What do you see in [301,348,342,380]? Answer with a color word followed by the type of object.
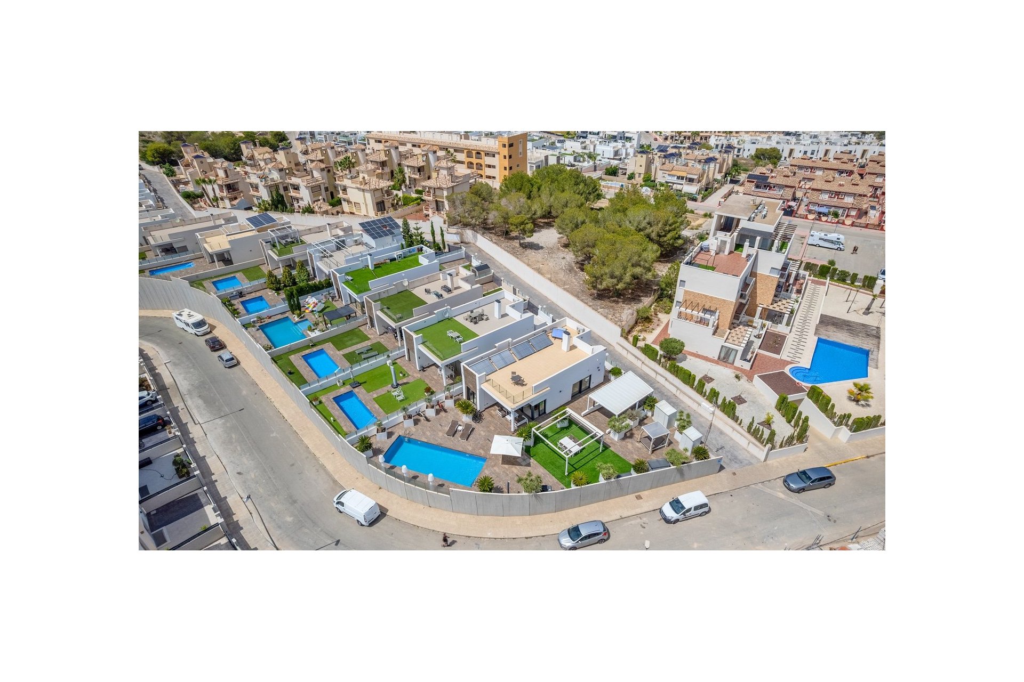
blue swimming pool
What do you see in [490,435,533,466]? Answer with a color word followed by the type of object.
white umbrella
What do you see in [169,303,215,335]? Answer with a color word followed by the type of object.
white camper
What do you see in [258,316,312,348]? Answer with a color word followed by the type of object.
blue swimming pool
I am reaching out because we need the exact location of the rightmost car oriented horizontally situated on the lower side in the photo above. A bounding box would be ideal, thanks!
[784,463,840,490]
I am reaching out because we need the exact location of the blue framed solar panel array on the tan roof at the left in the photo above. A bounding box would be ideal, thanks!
[243,215,282,235]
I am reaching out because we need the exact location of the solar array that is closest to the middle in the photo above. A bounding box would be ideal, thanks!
[349,215,415,243]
